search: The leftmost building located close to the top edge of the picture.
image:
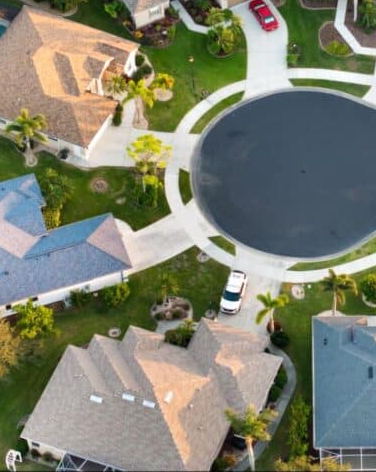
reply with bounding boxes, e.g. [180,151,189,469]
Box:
[0,5,139,155]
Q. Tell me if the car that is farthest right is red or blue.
red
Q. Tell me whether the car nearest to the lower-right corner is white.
Yes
